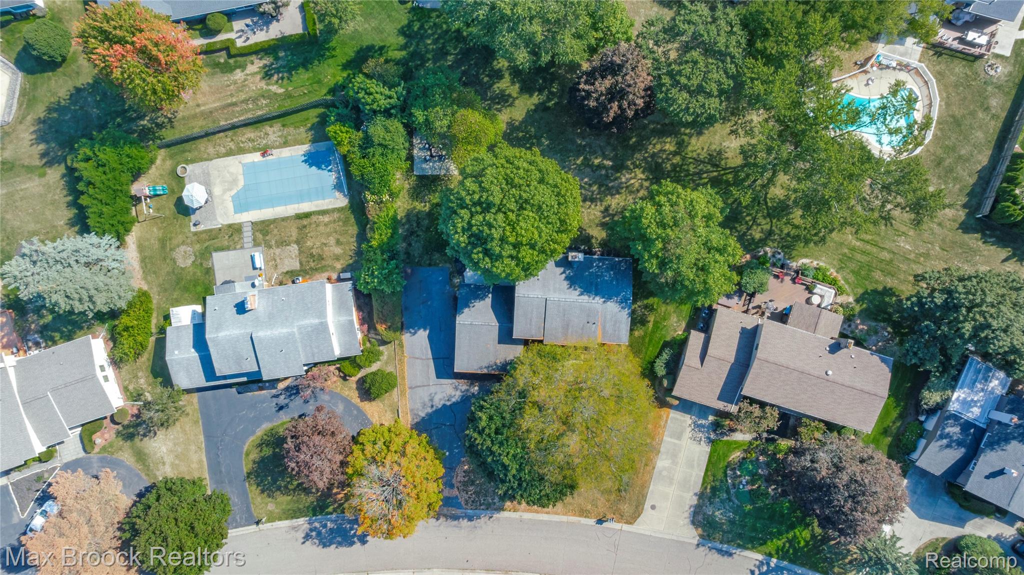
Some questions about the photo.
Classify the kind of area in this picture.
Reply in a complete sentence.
What you see here is a residential area.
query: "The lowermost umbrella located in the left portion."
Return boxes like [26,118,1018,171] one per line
[183,182,208,207]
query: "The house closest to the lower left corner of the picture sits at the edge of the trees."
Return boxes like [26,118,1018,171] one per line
[0,325,141,471]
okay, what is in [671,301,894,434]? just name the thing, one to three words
house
